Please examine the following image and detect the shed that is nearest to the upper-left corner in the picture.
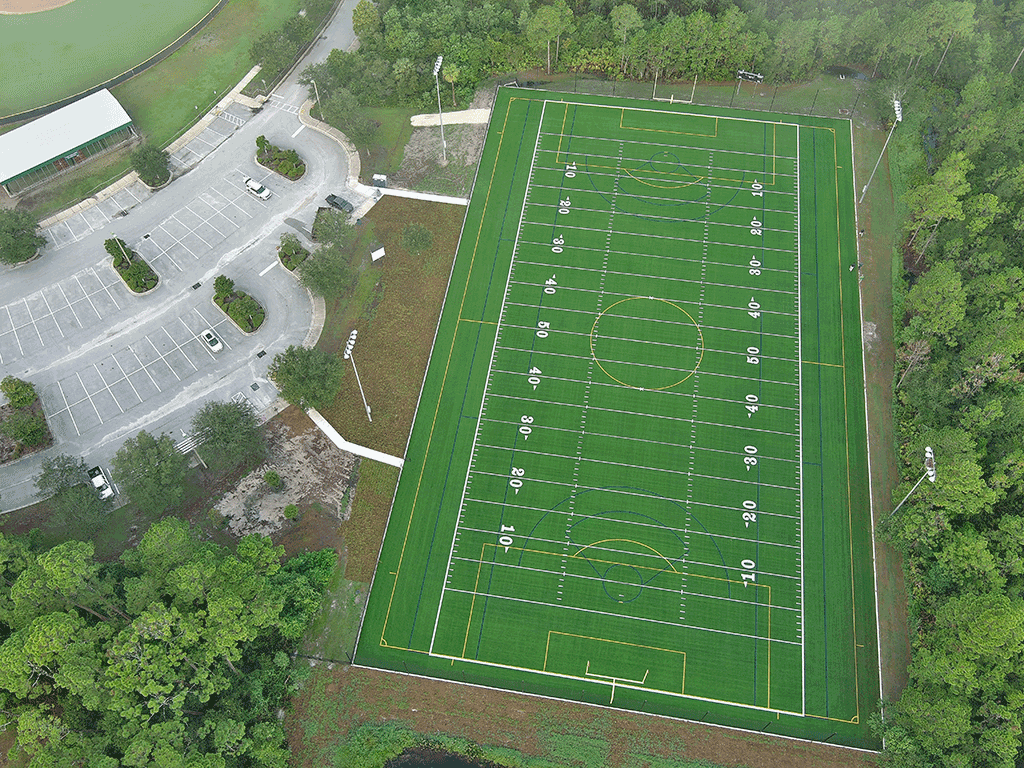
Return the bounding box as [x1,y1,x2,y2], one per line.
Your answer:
[0,87,144,198]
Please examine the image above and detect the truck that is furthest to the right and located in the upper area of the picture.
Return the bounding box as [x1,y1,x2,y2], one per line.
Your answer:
[322,191,354,212]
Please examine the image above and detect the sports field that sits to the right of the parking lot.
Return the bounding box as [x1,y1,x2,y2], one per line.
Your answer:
[349,84,883,751]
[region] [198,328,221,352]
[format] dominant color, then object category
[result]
white car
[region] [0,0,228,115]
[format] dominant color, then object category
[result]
green baseball field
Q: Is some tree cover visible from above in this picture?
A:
Yes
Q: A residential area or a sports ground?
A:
sports ground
